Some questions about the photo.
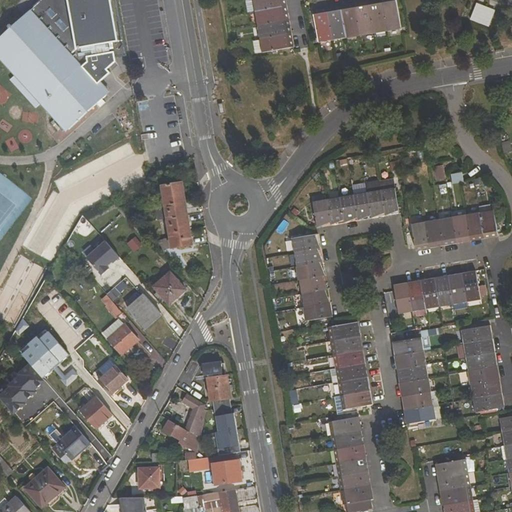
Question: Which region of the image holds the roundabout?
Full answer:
The roundabout is in the center part of the image.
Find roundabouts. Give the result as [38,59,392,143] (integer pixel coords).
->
[208,175,268,234]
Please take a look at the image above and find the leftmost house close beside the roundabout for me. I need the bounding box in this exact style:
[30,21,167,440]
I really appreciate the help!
[160,180,194,250]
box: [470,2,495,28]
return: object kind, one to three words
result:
building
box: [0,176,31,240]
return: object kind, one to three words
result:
tennis court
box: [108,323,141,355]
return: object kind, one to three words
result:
house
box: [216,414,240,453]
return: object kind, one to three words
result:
house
